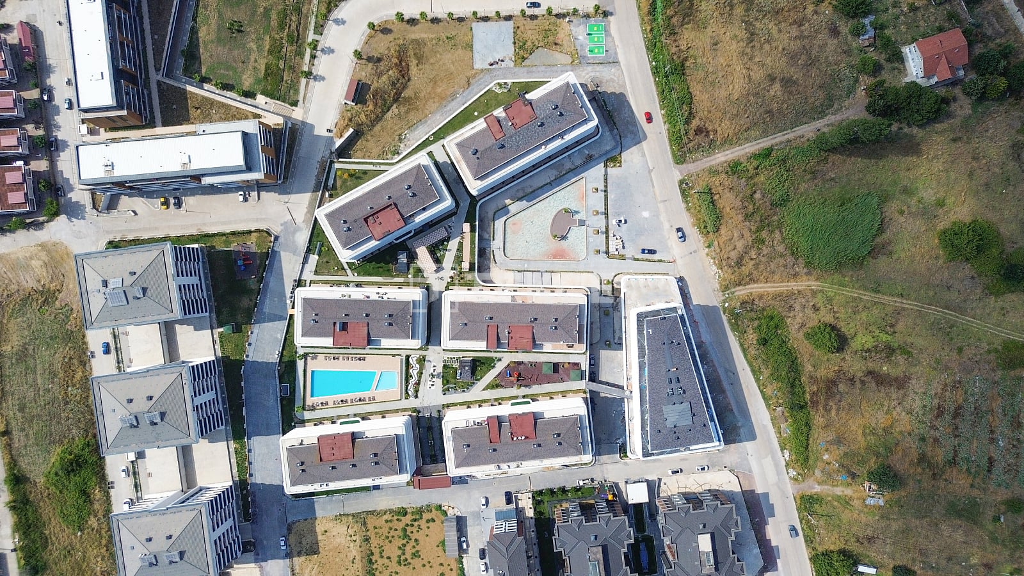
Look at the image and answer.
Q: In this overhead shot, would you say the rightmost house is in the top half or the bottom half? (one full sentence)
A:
Seen from above, the rightmost house lies in the top half of the view.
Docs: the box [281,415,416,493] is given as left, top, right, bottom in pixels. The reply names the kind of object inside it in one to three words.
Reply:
building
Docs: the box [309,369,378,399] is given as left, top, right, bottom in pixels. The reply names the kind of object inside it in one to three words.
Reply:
swimming pool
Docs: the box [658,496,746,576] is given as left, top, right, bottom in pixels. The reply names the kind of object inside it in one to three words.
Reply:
house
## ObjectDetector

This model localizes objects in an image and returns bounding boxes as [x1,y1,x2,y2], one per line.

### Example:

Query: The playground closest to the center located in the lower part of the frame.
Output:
[497,361,581,388]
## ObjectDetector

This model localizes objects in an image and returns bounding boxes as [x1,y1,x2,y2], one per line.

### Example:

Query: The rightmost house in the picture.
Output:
[897,28,968,88]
